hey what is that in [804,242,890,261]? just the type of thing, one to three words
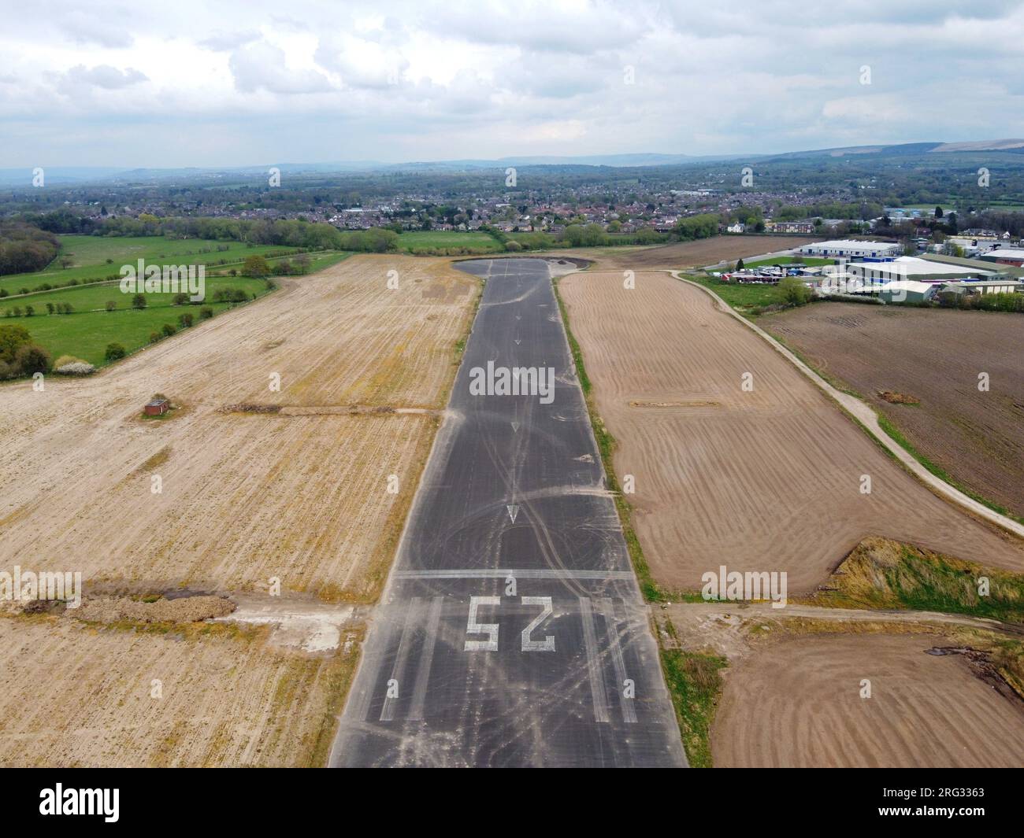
building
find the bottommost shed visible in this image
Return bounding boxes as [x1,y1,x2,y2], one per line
[142,402,172,416]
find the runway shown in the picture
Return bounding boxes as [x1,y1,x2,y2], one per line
[308,258,709,838]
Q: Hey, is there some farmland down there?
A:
Yes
